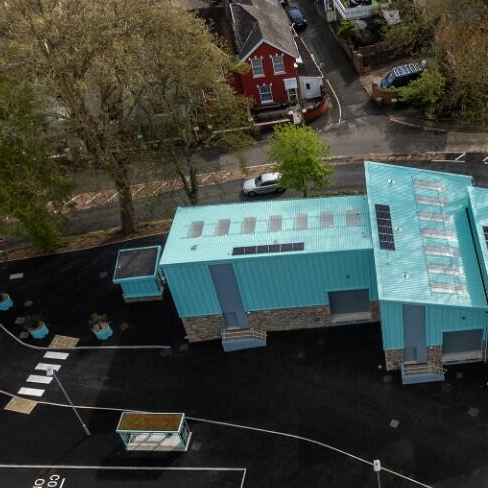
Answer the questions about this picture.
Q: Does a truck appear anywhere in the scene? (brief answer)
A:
No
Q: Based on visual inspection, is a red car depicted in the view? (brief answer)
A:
No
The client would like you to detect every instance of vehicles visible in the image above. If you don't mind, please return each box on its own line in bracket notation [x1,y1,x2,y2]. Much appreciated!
[281,0,310,24]
[380,60,431,93]
[240,171,287,198]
